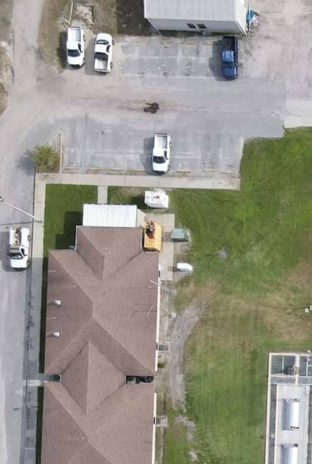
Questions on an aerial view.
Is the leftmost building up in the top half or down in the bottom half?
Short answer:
bottom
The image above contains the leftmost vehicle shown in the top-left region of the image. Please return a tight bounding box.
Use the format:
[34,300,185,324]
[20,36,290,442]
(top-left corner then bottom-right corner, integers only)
[66,27,85,68]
